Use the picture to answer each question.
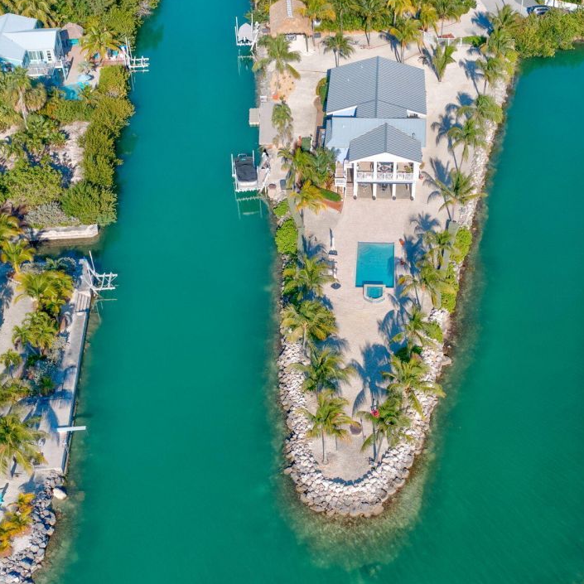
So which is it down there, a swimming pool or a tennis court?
swimming pool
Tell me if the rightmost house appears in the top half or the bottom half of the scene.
top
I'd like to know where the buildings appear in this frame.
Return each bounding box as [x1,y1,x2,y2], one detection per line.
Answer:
[265,2,317,48]
[325,55,429,202]
[0,13,71,88]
